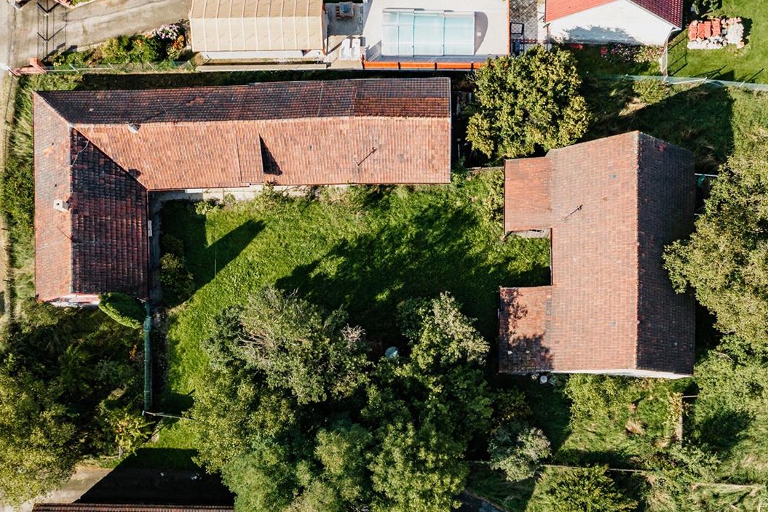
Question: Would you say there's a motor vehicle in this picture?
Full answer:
No, I can see no motor vehicle in this picture.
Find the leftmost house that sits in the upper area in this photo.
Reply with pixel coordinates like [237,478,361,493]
[32,75,452,303]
